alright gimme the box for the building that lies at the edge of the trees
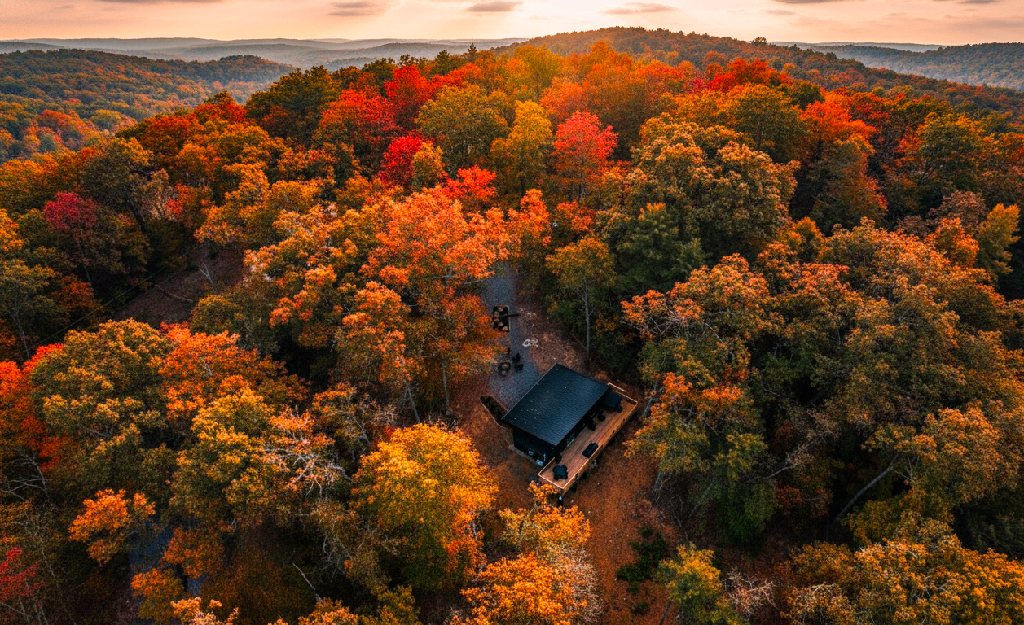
[503,368,622,476]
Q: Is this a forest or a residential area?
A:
forest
